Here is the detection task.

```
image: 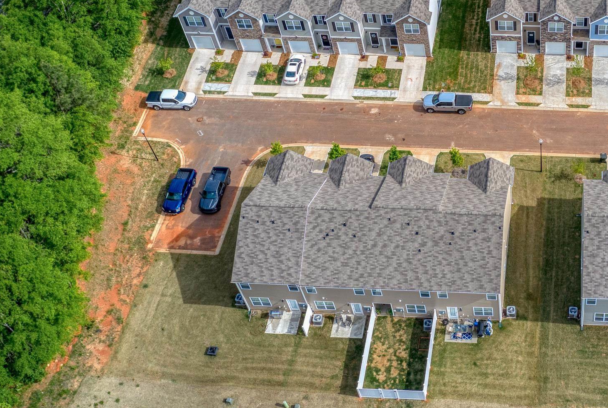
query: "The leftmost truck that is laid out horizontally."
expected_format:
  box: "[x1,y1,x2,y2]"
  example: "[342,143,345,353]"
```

[142,93,198,116]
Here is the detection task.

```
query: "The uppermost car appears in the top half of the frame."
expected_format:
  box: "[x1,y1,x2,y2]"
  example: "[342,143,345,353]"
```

[283,55,305,86]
